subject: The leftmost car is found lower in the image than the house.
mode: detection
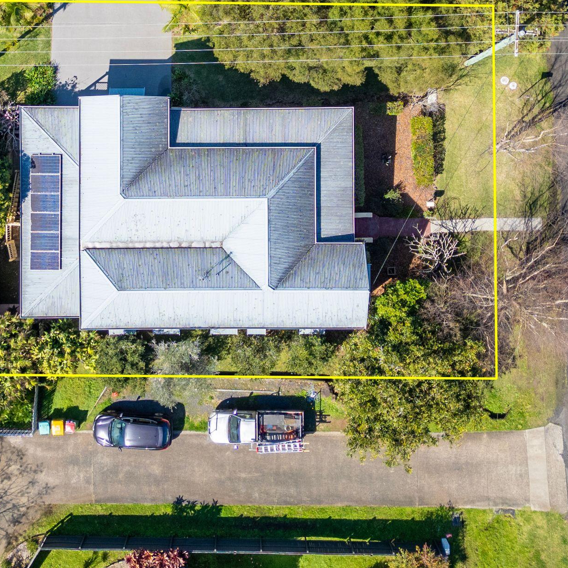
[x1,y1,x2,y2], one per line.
[93,414,173,456]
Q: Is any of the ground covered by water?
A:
No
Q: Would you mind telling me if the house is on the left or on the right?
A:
left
